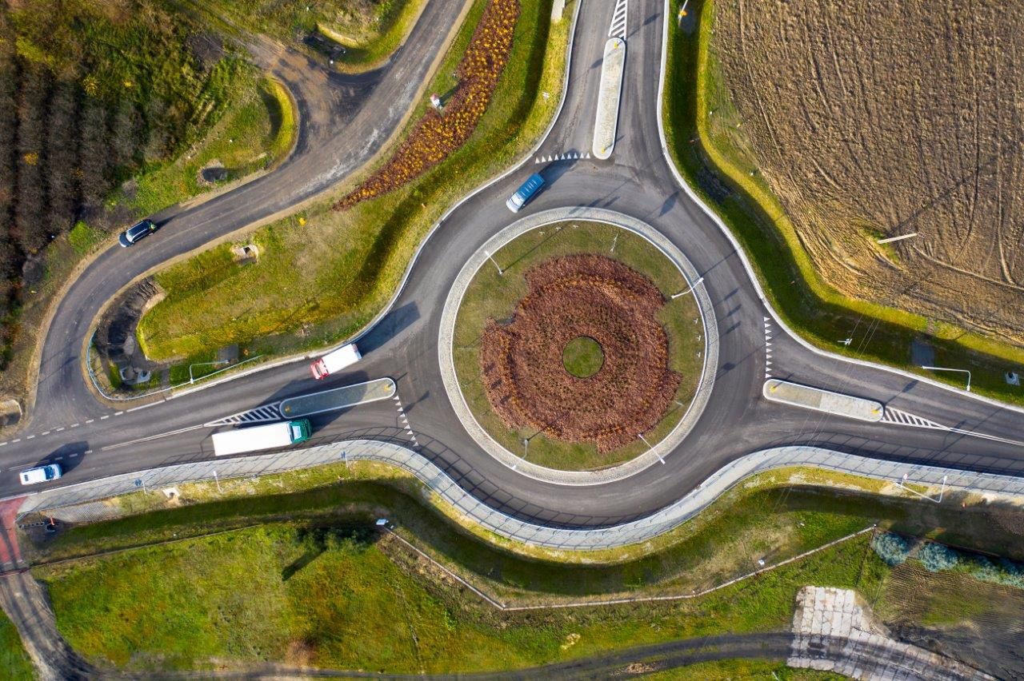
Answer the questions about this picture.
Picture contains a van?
Yes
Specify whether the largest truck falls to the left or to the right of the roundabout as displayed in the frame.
on its left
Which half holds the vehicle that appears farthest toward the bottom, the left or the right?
left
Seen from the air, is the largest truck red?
No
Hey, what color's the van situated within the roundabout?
blue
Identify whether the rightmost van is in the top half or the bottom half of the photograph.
top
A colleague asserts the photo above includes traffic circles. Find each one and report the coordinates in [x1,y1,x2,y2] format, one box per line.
[369,135,790,531]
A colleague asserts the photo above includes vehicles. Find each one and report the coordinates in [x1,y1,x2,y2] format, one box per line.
[16,462,65,486]
[212,415,321,457]
[310,342,366,382]
[506,171,546,214]
[119,216,159,249]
